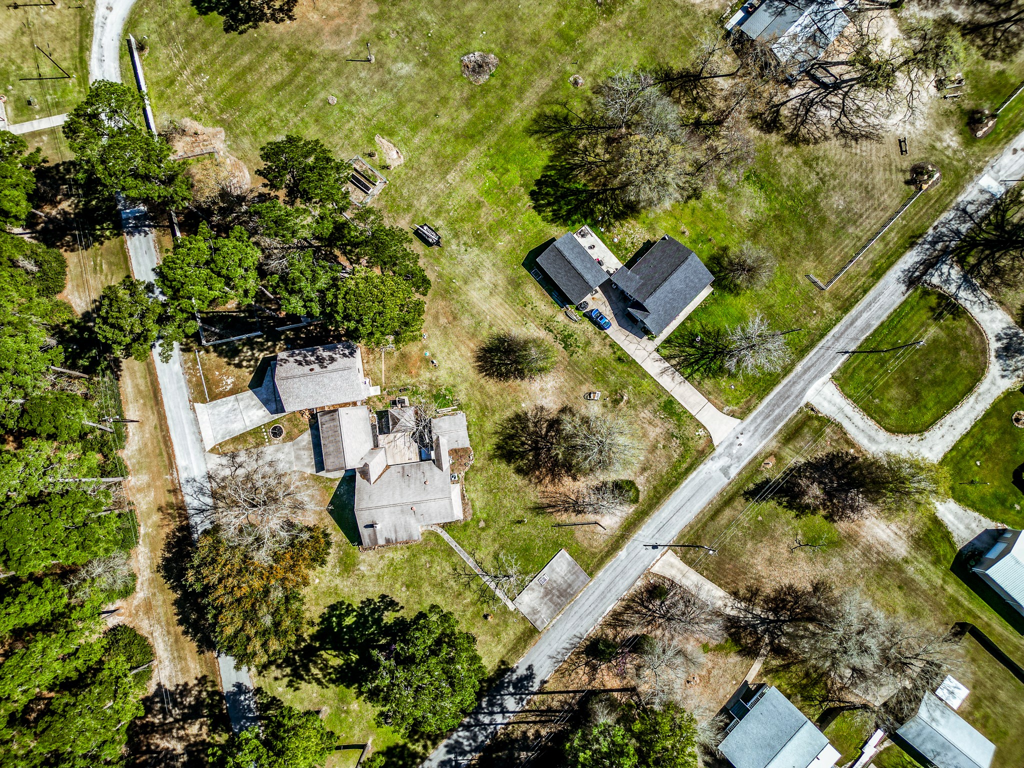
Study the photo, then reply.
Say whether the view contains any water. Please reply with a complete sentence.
No, there's no water in this view.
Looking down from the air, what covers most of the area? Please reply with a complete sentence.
Most of the picture is covered by grass.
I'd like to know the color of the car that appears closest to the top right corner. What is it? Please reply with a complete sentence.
The color of the car that appears closest to the top right corner is blue.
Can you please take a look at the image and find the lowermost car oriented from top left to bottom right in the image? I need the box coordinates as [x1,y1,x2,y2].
[590,308,613,331]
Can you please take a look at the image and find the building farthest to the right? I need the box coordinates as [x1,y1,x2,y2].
[970,529,1024,618]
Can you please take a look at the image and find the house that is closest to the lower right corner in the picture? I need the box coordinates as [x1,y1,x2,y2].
[890,689,1000,768]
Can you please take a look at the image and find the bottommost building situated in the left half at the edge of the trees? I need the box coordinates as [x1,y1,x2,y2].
[318,406,470,547]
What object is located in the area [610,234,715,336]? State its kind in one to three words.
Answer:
house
